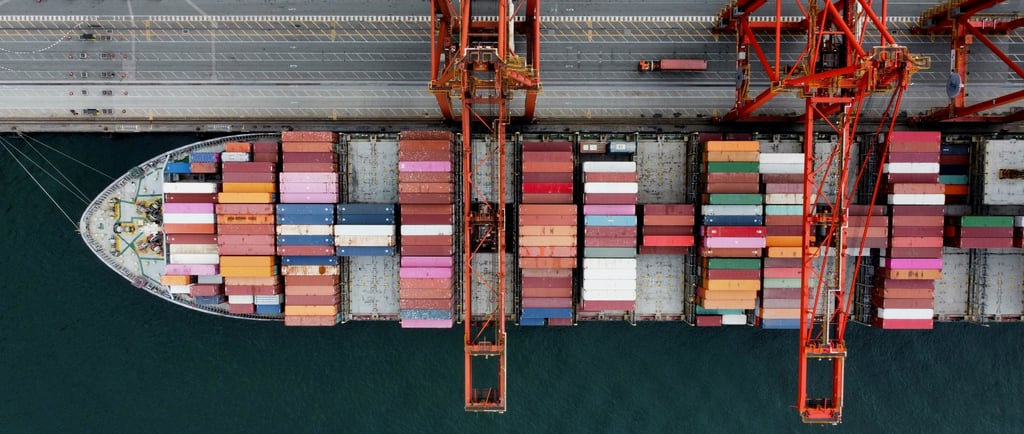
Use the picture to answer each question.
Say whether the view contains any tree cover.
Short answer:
No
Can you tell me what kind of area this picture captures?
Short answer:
port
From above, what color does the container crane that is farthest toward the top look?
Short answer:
red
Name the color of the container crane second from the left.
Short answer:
red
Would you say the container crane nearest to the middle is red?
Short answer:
Yes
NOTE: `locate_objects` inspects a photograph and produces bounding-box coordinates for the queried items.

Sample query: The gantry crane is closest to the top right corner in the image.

[899,0,1024,123]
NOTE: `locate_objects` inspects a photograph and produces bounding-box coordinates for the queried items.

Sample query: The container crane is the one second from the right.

[698,0,934,423]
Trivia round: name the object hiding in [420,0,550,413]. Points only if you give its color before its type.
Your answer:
red container crane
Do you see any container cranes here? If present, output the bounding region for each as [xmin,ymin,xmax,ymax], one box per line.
[420,0,550,413]
[899,0,1024,123]
[698,0,934,423]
